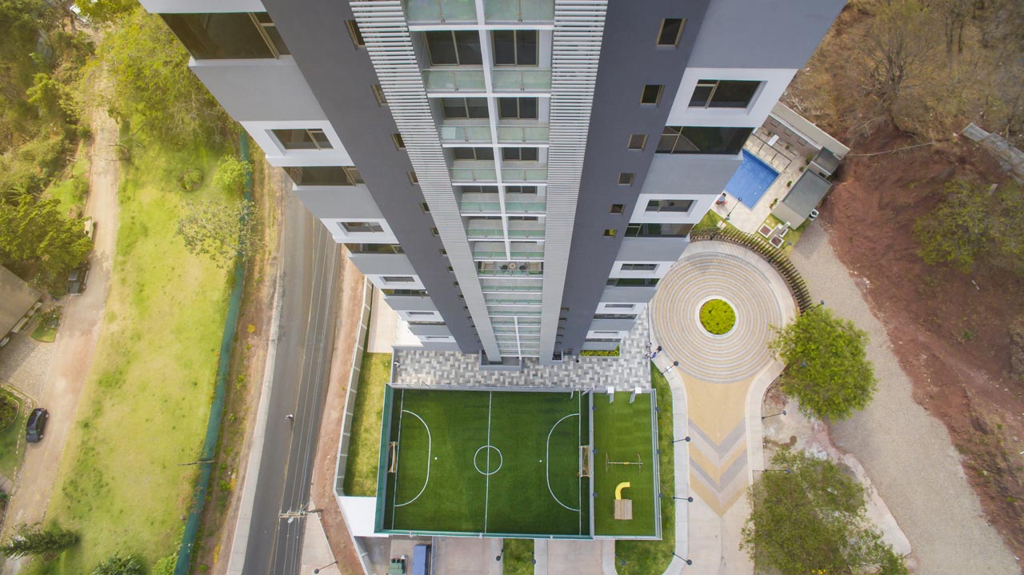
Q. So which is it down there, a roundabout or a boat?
roundabout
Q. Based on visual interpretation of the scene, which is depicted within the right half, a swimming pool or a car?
swimming pool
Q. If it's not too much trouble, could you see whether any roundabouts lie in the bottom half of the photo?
Yes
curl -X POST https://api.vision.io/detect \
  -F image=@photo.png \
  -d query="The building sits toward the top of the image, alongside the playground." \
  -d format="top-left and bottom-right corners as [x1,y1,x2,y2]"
[138,0,838,362]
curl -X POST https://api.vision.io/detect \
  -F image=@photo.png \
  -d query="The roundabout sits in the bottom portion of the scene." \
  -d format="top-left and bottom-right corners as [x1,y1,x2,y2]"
[640,240,800,514]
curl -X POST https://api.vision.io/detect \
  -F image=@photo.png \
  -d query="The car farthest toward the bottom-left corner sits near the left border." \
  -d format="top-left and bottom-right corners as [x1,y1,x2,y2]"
[21,408,47,442]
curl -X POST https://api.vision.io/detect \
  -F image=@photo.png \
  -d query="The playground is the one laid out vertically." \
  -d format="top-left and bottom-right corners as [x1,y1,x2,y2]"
[593,392,656,537]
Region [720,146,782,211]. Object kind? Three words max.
swimming pool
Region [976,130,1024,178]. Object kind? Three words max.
shed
